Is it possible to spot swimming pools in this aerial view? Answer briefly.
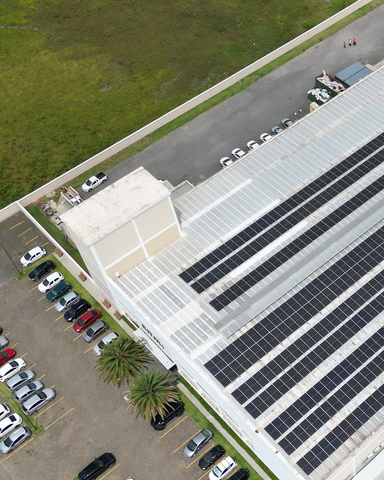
No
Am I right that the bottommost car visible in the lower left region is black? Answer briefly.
Yes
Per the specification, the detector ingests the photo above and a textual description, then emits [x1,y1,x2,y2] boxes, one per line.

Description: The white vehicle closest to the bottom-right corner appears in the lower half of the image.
[206,455,239,480]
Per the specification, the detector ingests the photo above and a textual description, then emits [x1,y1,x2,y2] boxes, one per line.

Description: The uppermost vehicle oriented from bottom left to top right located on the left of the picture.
[82,172,110,193]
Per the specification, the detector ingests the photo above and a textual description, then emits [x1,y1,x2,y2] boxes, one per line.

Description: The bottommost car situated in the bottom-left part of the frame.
[77,452,114,480]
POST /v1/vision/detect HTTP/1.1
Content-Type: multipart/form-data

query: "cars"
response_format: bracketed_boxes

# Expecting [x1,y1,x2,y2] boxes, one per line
[54,290,83,313]
[181,429,213,459]
[220,157,233,166]
[77,452,114,480]
[71,308,103,333]
[0,413,23,441]
[92,331,118,355]
[227,466,253,480]
[0,403,14,421]
[62,298,93,324]
[13,382,45,407]
[269,125,283,134]
[46,280,73,302]
[38,272,65,293]
[20,247,45,268]
[246,140,259,150]
[0,426,32,455]
[0,347,20,368]
[196,443,226,473]
[0,336,12,352]
[206,455,239,480]
[21,389,57,418]
[28,258,59,283]
[0,355,29,382]
[258,133,271,142]
[5,370,37,395]
[232,149,244,158]
[82,318,112,343]
[281,118,294,127]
